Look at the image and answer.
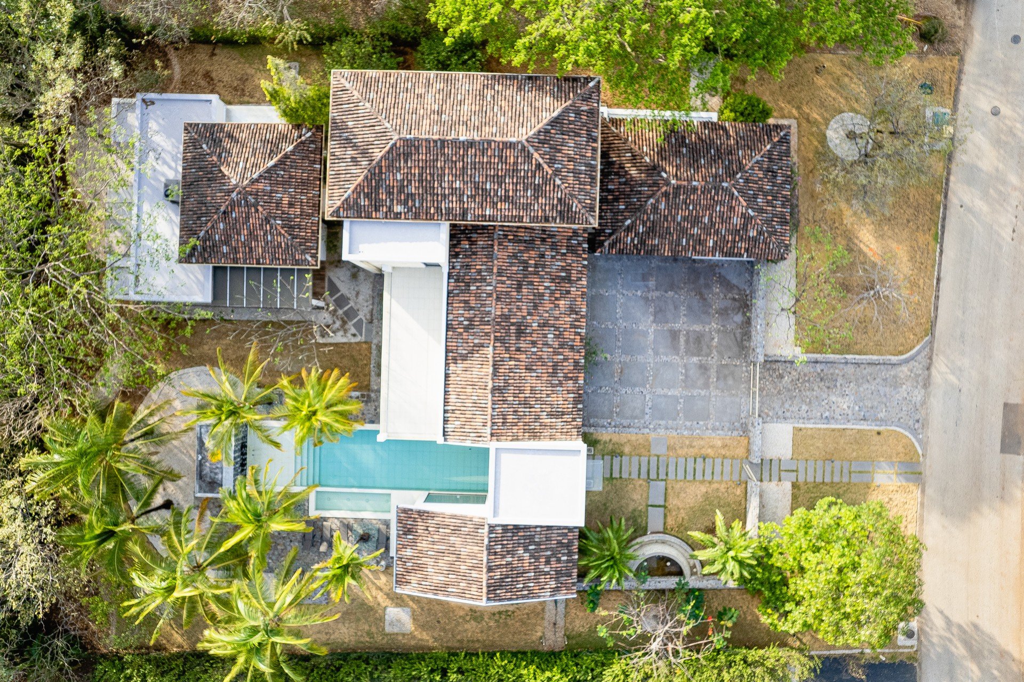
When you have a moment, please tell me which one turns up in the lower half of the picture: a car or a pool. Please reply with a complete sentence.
Visible in the lower half of the picture is a pool.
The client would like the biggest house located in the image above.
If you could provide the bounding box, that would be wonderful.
[324,69,604,606]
